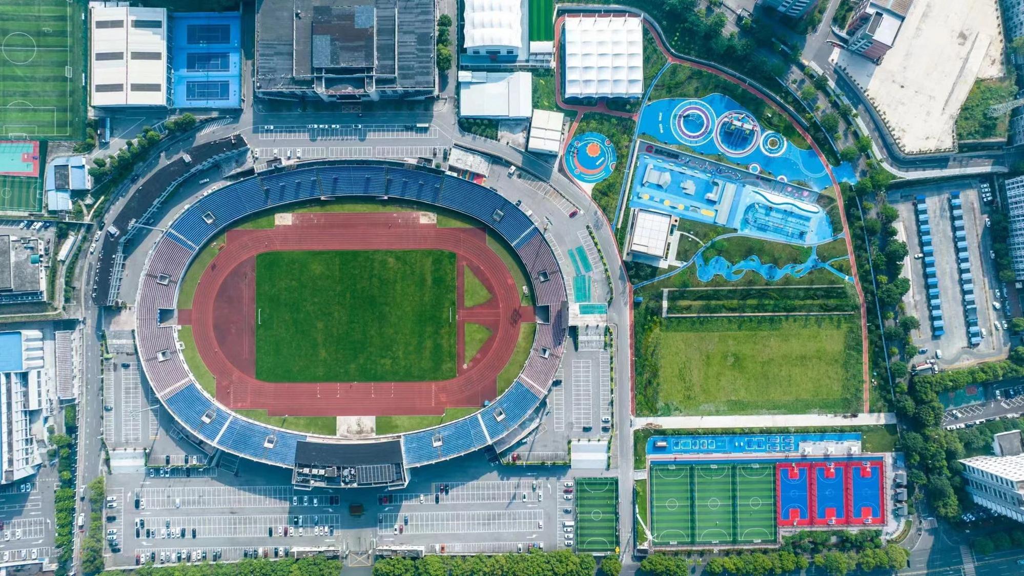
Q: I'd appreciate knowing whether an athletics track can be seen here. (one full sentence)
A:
Yes, there's an athletics track down there.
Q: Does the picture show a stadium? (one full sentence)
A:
Yes, looking at the shot, I can spot a stadium.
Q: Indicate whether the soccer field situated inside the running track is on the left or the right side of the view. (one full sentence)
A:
The soccer field situated inside the running track appears in the left half of the scene.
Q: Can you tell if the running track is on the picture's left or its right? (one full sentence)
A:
The running track appears in the left half of the scene.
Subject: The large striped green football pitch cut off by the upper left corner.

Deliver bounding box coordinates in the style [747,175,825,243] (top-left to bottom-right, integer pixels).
[0,0,86,141]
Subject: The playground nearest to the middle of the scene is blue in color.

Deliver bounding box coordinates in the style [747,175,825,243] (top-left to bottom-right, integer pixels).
[564,132,617,184]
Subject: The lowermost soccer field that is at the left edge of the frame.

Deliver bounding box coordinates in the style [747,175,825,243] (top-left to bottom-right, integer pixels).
[0,176,43,212]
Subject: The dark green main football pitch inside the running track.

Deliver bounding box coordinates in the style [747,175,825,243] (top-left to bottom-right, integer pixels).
[256,250,457,382]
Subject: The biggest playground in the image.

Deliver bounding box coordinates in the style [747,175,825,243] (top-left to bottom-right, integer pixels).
[637,92,850,192]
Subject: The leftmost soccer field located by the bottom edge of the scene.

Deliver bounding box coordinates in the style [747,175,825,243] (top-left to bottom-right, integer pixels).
[576,477,618,552]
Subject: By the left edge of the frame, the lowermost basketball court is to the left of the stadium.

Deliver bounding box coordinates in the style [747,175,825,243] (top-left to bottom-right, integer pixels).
[0,141,39,177]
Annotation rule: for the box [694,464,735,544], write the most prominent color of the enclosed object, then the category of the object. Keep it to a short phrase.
green soccer field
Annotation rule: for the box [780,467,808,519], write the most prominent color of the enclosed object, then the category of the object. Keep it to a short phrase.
blue basketball court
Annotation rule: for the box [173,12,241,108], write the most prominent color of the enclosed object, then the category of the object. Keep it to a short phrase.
blue tennis court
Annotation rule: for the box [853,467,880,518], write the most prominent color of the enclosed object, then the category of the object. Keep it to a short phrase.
blue basketball court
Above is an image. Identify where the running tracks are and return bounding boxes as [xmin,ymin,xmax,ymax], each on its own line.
[177,212,535,416]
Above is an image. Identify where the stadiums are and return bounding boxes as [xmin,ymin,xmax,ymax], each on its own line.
[135,156,568,490]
